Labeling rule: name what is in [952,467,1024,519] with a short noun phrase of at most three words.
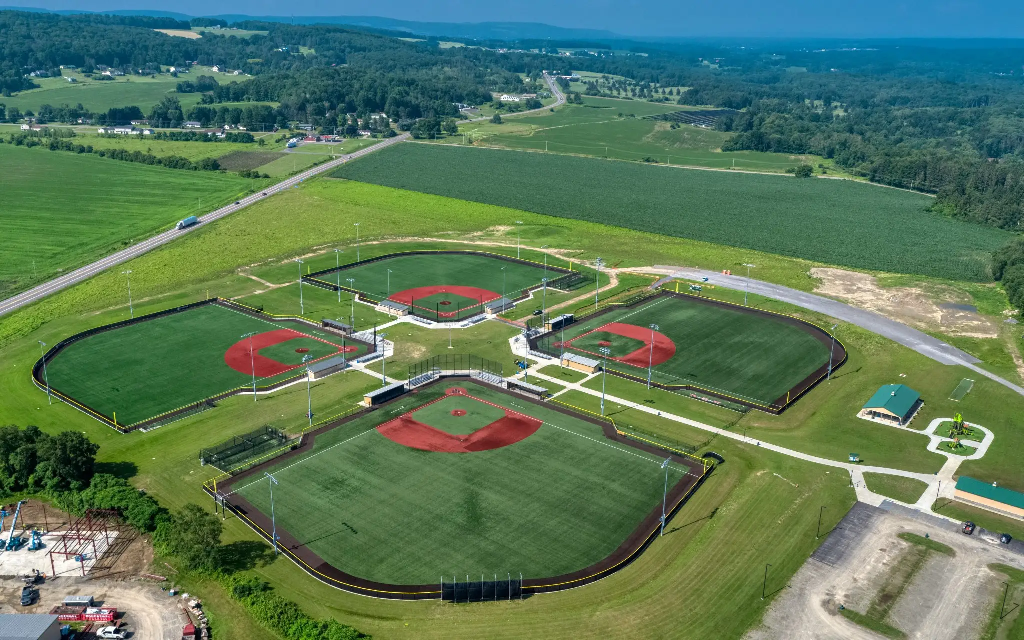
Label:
building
